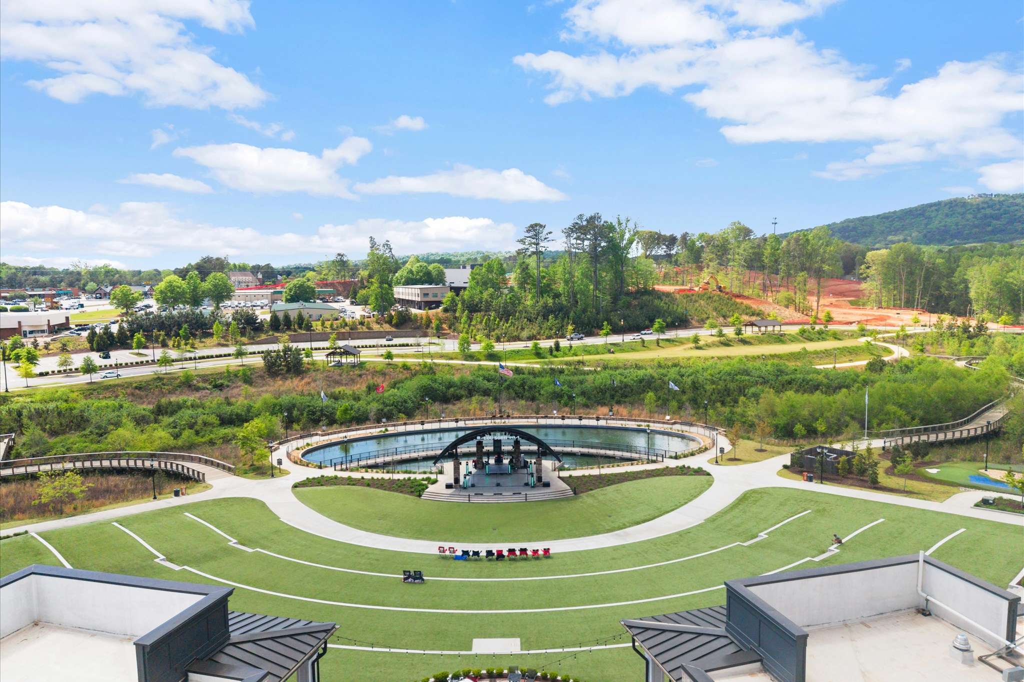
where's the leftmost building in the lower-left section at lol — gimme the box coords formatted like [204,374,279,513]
[0,565,269,682]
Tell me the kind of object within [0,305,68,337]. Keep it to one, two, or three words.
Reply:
building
